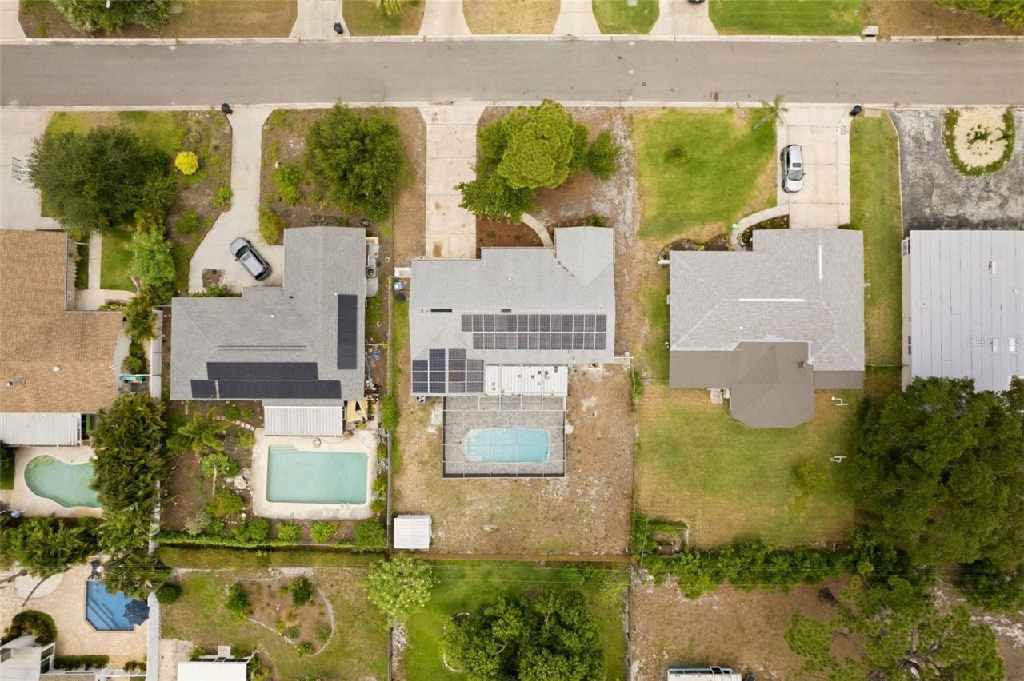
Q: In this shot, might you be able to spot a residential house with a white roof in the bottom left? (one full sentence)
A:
Yes, a residential house with a white roof appears in the bottom left.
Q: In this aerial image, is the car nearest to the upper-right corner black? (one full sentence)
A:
No, the car nearest to the upper-right corner is actually white.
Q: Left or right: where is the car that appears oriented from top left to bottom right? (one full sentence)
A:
It is on the left.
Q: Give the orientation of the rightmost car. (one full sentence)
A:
The rightmost car runs vertically in the image.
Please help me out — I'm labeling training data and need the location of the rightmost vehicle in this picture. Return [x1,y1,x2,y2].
[780,143,806,194]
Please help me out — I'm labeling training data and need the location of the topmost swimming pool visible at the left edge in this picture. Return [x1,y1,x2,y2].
[22,452,117,511]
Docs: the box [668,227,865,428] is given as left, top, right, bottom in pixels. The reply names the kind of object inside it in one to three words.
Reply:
house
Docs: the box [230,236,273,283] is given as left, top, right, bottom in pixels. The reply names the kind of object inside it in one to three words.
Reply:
car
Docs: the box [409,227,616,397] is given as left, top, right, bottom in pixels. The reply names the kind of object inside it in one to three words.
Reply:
house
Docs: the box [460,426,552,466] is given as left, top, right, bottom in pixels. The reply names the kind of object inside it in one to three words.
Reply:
swimming pool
